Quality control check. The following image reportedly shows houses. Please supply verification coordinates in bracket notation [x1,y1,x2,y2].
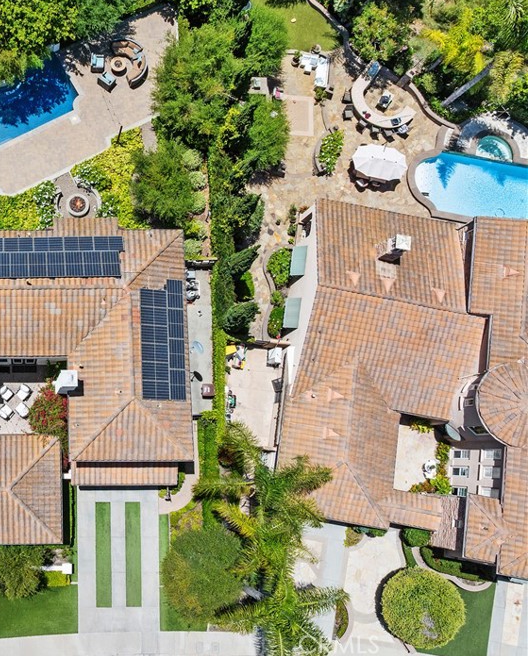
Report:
[0,218,197,546]
[265,198,528,579]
